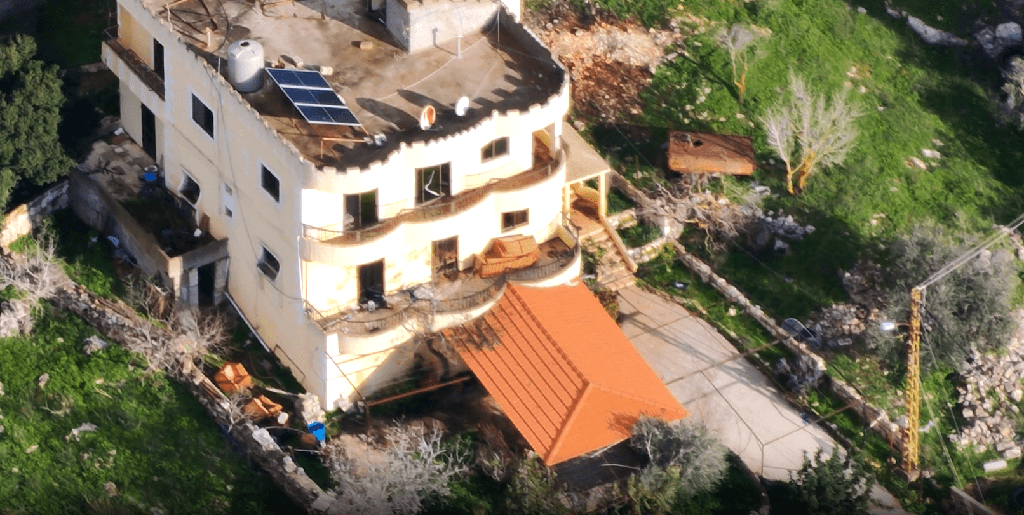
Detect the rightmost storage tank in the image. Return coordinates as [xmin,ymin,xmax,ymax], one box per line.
[668,134,753,177]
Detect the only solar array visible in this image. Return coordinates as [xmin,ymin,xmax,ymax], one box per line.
[264,67,369,154]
